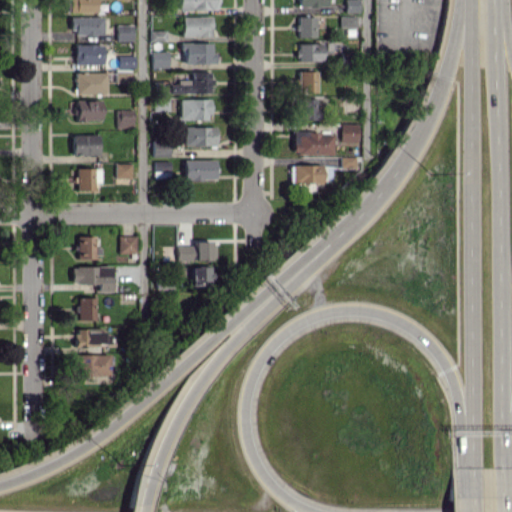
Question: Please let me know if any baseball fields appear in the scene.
No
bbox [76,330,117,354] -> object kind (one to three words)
house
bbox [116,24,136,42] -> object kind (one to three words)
building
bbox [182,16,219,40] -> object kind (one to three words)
house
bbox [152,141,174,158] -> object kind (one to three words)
building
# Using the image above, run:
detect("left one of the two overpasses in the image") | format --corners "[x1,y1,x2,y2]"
[128,329,248,512]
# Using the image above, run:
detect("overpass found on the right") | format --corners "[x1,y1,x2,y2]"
[448,425,512,512]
